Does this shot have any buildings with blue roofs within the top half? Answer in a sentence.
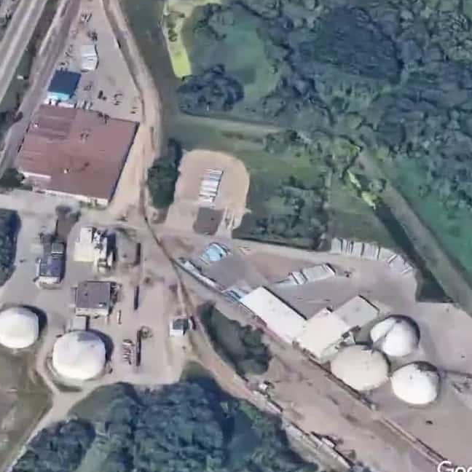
Yes, a building with a blue roof is visible within the top half.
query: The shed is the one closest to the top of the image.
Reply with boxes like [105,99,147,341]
[82,45,97,72]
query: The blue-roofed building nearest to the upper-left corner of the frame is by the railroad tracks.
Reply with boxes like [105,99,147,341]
[49,69,81,101]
